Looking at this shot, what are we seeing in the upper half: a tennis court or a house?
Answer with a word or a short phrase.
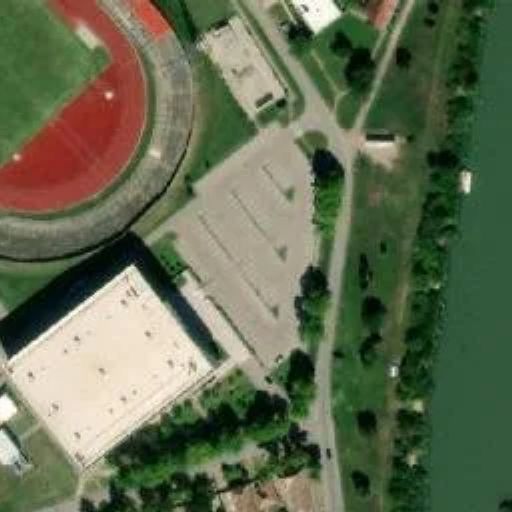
house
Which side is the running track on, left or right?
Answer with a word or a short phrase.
left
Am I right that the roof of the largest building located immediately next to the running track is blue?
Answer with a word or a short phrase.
No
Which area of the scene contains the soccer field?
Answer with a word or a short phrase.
top left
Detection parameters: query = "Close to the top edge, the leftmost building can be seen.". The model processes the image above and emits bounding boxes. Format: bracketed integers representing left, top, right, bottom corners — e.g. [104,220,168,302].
[200,18,286,119]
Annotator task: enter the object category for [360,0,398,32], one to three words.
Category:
house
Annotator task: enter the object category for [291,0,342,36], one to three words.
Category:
building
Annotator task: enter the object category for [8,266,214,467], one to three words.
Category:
building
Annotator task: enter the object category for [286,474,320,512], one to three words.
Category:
house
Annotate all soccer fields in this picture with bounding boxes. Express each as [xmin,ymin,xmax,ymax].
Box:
[0,0,111,168]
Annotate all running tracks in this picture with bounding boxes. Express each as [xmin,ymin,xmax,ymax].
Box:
[0,0,149,214]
